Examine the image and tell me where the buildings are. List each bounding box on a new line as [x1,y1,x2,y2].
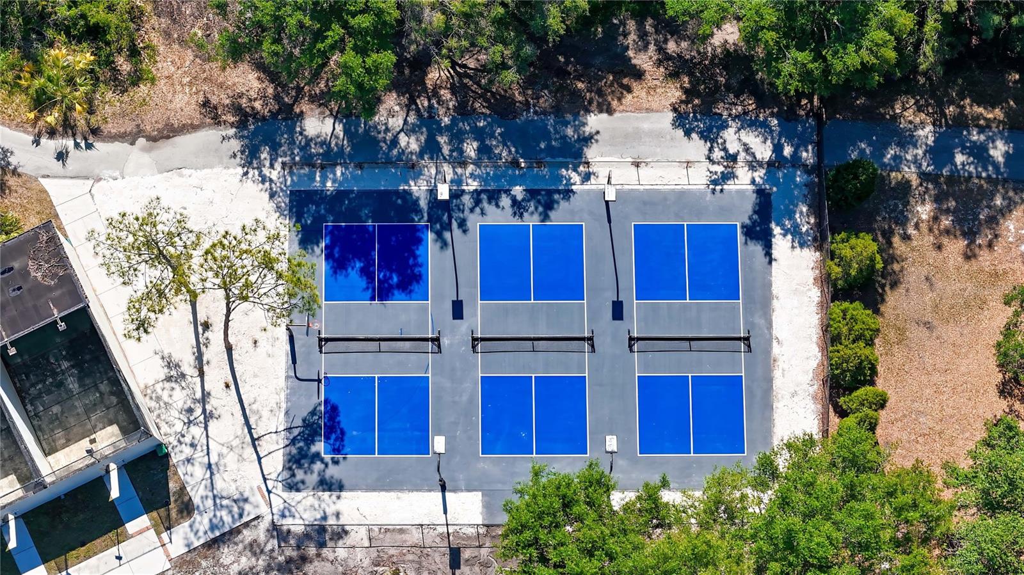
[0,218,165,520]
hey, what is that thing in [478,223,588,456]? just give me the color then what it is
blue sports court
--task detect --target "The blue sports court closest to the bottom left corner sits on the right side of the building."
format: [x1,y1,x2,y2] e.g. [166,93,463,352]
[321,223,430,457]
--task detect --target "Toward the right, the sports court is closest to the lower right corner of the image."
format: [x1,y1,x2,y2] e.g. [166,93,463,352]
[633,222,746,455]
